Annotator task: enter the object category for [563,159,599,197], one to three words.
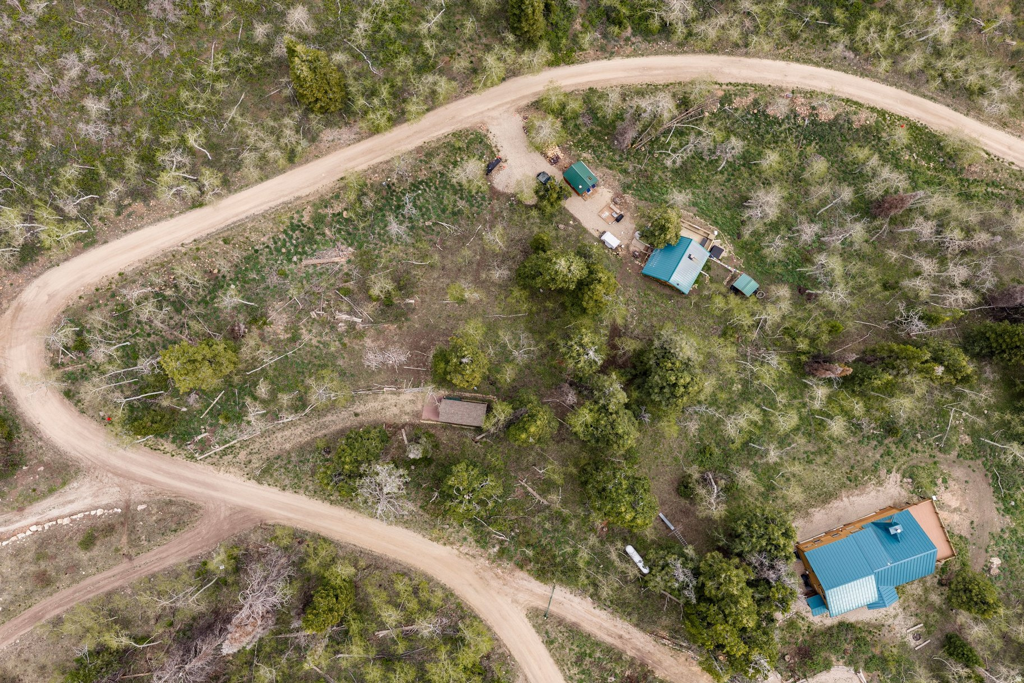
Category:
building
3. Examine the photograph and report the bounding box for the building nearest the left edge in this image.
[439,398,488,427]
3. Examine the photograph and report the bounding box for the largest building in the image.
[796,507,938,619]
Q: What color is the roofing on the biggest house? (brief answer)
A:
blue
